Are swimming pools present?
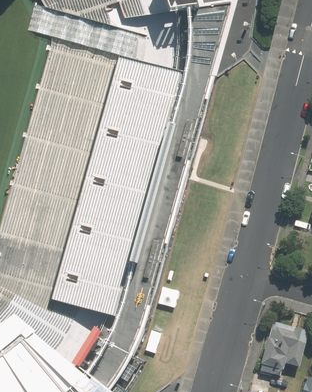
No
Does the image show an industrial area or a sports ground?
sports ground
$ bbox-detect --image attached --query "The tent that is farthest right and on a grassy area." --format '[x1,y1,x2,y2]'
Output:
[158,286,180,308]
